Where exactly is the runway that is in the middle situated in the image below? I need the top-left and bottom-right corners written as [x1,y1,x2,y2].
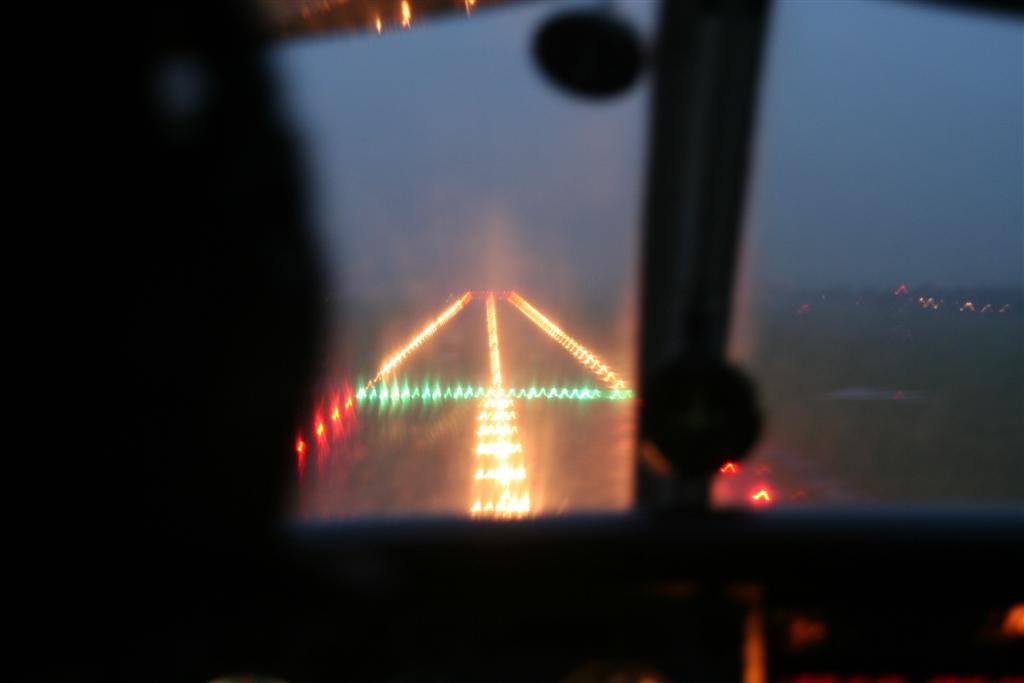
[357,294,634,395]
